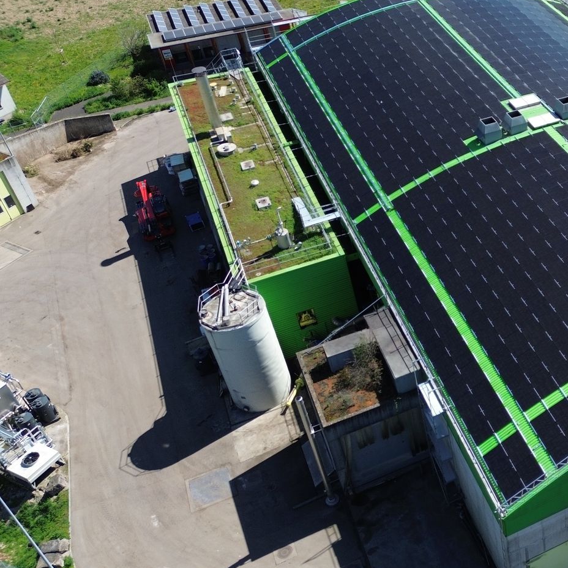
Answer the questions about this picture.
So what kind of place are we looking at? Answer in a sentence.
This looks like an industrial area.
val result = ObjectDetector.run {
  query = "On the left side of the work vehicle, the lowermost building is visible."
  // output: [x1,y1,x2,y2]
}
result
[0,162,33,225]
